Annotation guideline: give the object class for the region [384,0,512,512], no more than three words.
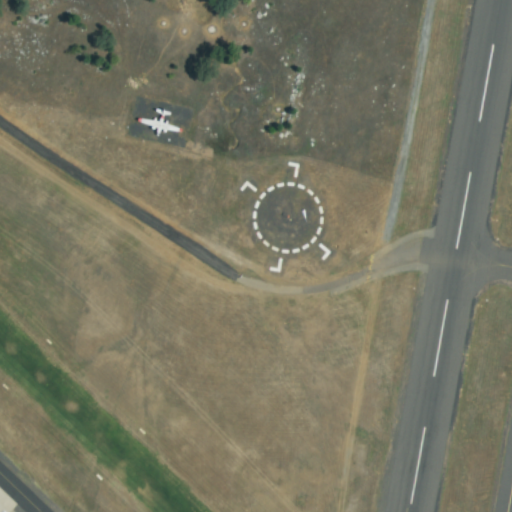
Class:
runway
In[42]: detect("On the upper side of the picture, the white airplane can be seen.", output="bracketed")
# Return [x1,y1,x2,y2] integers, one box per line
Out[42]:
[138,108,183,136]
